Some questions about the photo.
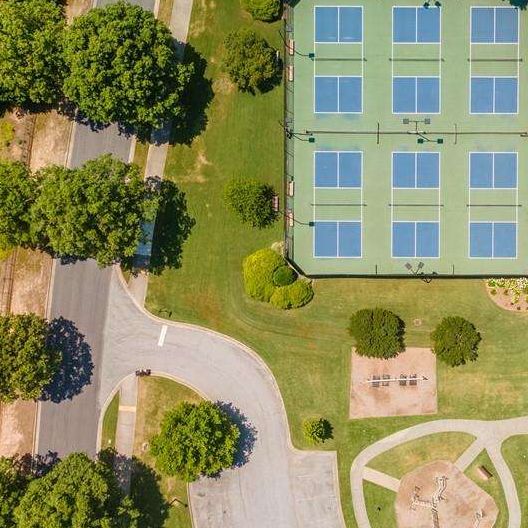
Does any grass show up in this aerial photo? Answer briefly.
Yes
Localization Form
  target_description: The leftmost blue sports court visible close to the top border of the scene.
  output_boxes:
[309,6,367,114]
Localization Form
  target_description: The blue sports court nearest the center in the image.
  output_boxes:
[309,152,366,258]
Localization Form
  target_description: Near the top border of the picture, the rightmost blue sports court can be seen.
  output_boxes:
[465,6,523,114]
